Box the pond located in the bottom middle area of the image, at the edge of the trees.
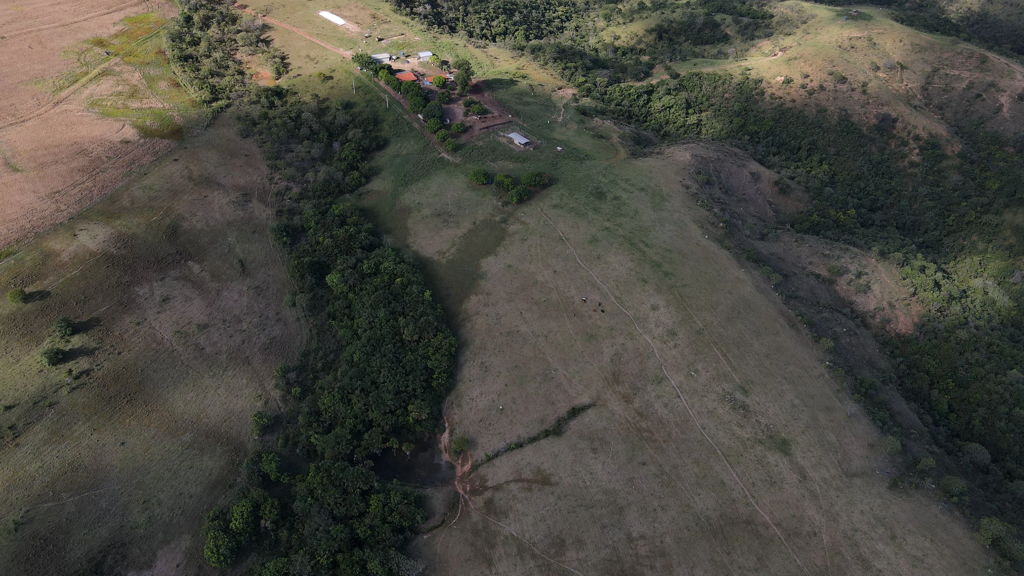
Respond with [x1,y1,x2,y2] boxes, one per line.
[373,441,455,488]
